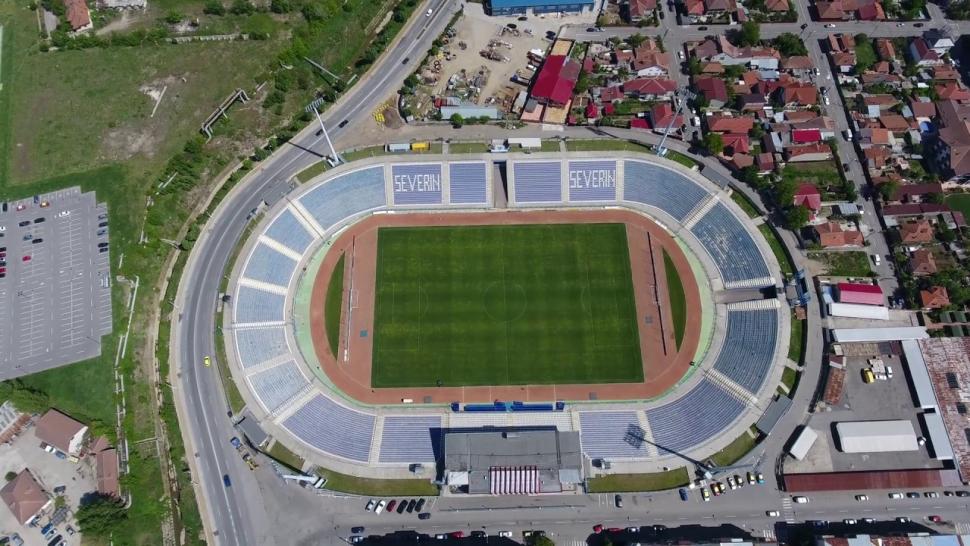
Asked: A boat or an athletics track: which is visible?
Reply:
athletics track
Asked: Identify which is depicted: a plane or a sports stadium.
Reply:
sports stadium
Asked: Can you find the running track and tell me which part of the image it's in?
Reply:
center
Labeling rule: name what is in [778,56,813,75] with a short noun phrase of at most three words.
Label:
house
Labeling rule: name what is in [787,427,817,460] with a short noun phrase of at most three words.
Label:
building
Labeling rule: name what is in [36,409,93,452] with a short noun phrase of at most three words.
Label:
building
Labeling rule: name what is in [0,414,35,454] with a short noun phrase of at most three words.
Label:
shed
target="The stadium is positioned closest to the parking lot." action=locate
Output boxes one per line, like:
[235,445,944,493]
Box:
[224,150,791,492]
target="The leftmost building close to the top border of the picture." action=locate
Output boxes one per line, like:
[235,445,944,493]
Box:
[66,0,97,38]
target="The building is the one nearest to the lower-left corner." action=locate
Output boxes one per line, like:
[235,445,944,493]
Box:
[0,467,57,525]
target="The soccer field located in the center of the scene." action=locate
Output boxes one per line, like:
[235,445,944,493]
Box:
[371,223,643,388]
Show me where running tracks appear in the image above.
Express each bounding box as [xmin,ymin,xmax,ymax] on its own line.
[311,207,702,406]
